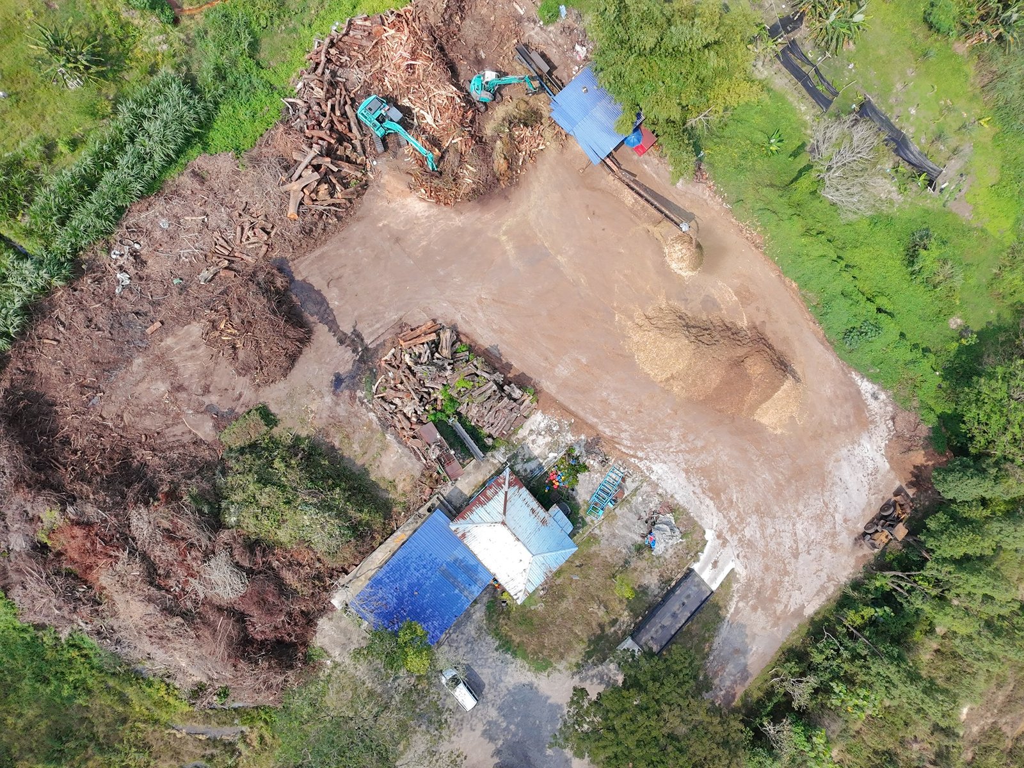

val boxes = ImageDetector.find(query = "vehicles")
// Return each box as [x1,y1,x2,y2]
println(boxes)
[442,662,479,713]
[853,486,919,558]
[466,65,541,111]
[354,99,442,179]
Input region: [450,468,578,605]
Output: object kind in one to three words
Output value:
house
